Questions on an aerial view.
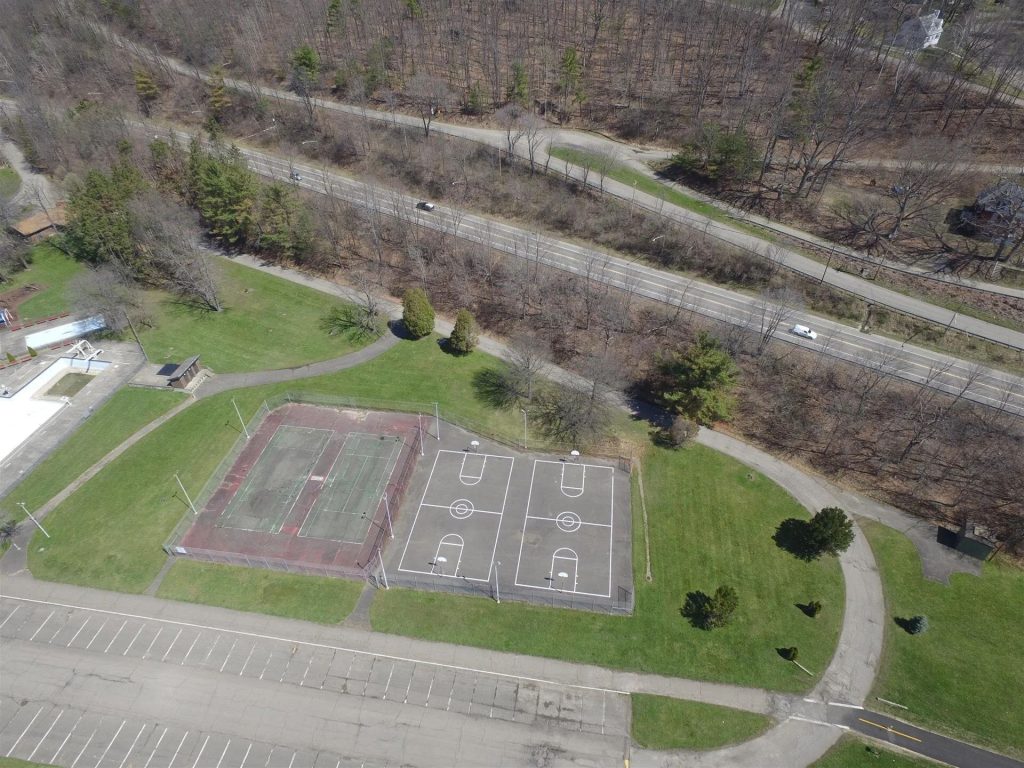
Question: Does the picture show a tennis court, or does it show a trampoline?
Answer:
tennis court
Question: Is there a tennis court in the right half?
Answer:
No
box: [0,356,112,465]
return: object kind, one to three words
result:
swimming pool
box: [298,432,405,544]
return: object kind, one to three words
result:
tennis court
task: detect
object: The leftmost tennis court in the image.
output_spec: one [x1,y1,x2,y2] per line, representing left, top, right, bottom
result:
[216,425,334,534]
